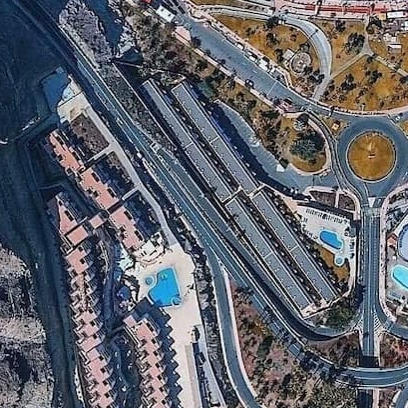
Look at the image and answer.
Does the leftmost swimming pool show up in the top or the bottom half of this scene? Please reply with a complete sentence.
You can find the leftmost swimming pool in the bottom half.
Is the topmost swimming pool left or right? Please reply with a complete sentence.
The topmost swimming pool appears in the right half of the scene.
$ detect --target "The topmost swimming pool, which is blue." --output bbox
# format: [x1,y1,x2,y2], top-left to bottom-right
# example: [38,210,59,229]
[318,225,346,265]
